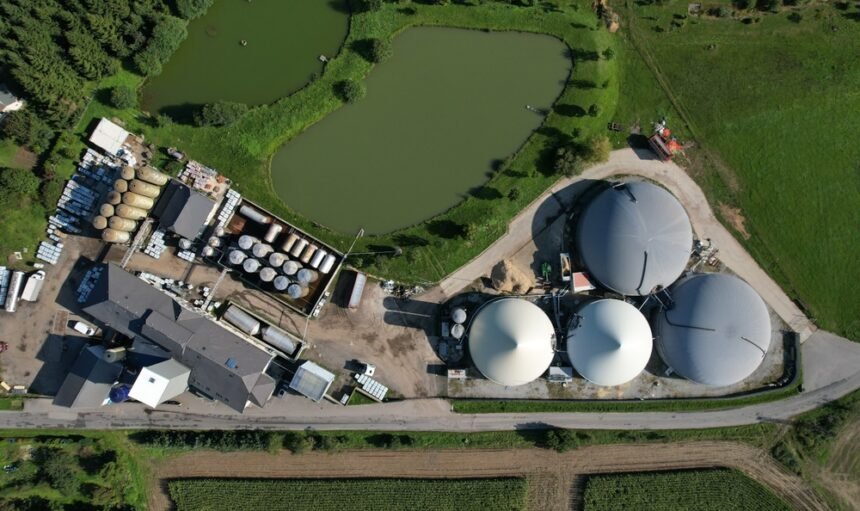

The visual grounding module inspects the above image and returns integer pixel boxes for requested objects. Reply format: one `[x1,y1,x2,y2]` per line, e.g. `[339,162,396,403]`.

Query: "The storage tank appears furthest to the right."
[651,271,771,387]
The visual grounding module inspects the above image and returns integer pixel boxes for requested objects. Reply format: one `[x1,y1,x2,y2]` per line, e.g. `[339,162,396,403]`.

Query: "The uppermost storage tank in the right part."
[574,180,693,296]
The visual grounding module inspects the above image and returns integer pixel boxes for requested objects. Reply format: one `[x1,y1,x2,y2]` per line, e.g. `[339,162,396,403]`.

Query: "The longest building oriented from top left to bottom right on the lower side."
[81,261,278,414]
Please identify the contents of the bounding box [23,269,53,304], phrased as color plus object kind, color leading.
white truck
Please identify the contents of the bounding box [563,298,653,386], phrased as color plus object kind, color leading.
white storage tank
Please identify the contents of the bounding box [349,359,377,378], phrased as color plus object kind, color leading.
white vehicle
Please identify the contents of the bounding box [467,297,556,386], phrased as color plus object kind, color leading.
white storage tank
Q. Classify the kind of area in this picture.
industrial area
